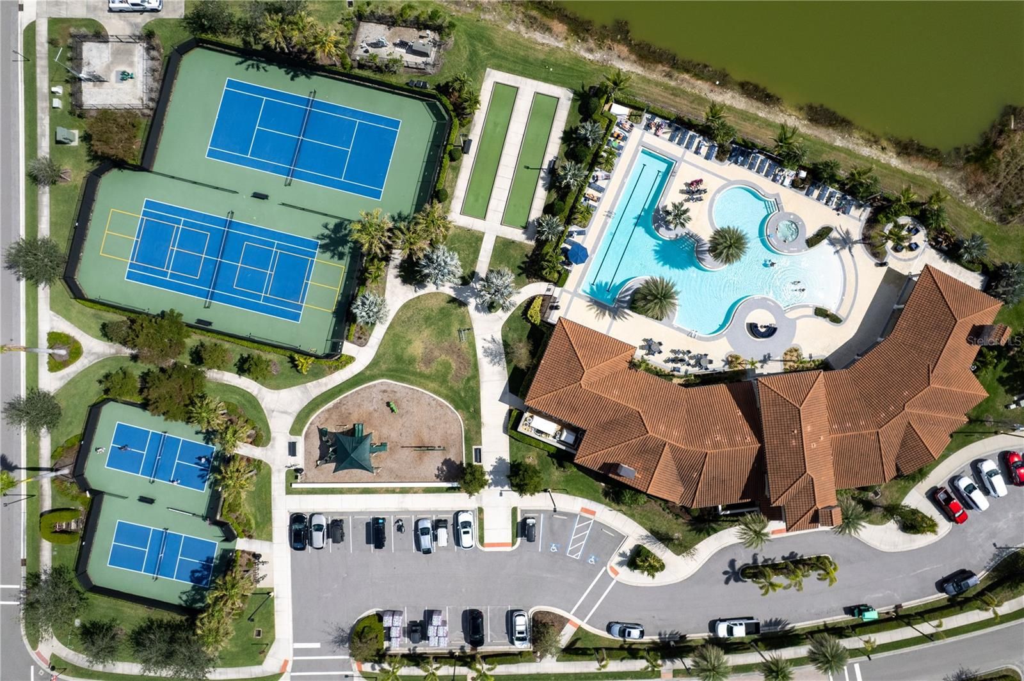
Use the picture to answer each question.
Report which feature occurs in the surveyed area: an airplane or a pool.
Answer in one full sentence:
The one in the frame is a pool.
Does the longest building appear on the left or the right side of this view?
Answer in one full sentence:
You can find the longest building on the right side of the picture.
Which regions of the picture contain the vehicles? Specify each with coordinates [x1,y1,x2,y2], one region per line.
[307,514,325,551]
[936,486,972,525]
[717,620,762,641]
[457,511,475,552]
[408,623,420,648]
[397,520,404,533]
[468,610,485,648]
[1007,449,1024,486]
[416,519,433,556]
[980,461,1010,498]
[371,518,384,551]
[854,607,882,623]
[959,476,991,512]
[435,524,448,551]
[526,519,536,545]
[609,623,646,643]
[288,514,306,553]
[512,612,529,649]
[328,520,343,547]
[945,573,985,597]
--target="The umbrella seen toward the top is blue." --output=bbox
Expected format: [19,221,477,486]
[567,243,587,263]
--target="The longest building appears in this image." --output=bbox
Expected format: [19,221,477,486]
[525,264,1011,532]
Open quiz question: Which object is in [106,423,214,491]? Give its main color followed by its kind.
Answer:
blue sports court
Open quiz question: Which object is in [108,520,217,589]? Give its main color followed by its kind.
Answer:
blue sports court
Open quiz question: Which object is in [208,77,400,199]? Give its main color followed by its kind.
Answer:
blue tennis court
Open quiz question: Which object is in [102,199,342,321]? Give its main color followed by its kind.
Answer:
blue tennis court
